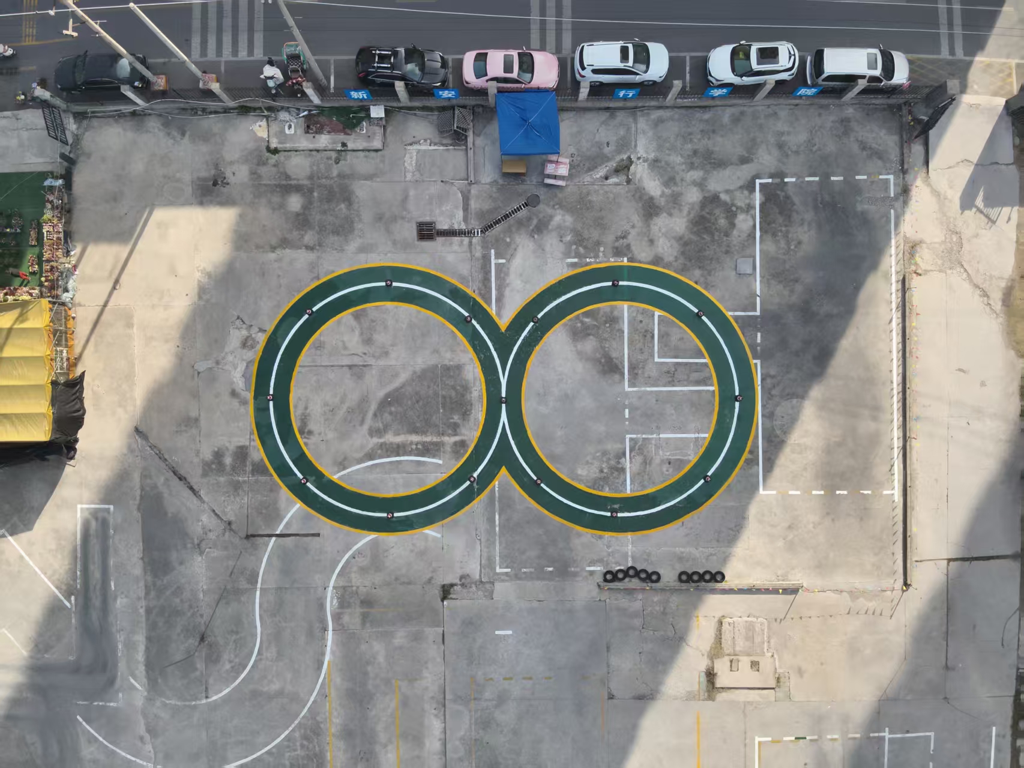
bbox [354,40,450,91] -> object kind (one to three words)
car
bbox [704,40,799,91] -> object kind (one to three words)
car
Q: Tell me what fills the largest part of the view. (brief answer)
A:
paved ground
